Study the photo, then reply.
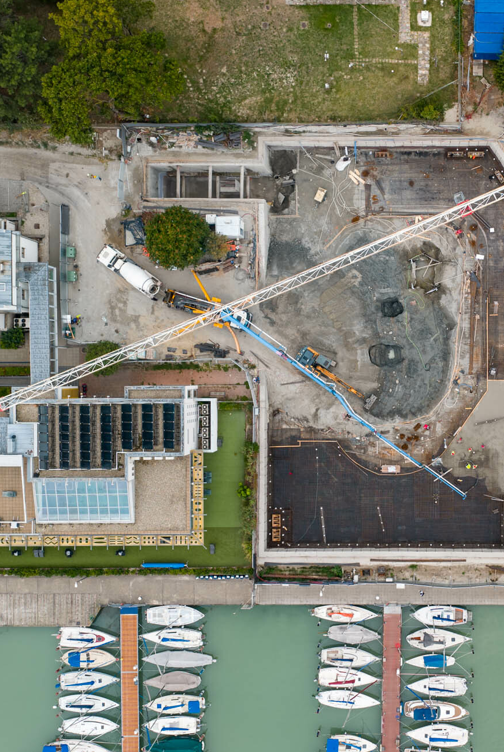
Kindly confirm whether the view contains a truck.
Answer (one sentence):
Yes, a truck is visible in the scene.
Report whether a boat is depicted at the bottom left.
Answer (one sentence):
Yes, a boat appears at the bottom left.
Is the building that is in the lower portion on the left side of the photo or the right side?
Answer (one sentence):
The building that is in the lower portion is on the left side of the image.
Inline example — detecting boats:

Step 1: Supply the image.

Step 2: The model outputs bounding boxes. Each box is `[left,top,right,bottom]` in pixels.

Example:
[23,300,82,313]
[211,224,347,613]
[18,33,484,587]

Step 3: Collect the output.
[61,648,120,683]
[325,730,377,752]
[324,622,380,655]
[143,606,206,632]
[410,606,470,633]
[60,713,120,752]
[403,721,467,752]
[140,713,205,752]
[140,735,207,752]
[139,625,207,659]
[306,605,380,632]
[57,668,121,706]
[317,686,380,729]
[141,692,207,731]
[401,696,470,722]
[140,648,215,683]
[406,625,473,662]
[141,668,203,705]
[406,673,467,712]
[55,691,121,731]
[43,736,119,752]
[406,653,455,677]
[318,666,380,702]
[57,627,120,661]
[321,646,381,680]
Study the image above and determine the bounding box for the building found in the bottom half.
[0,386,220,551]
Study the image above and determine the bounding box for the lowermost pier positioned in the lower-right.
[377,600,407,752]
